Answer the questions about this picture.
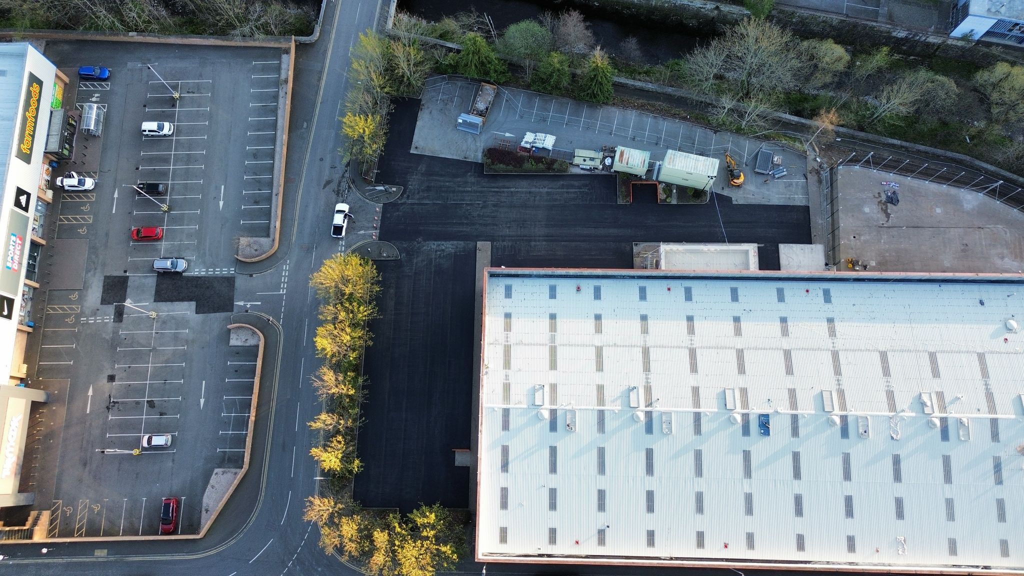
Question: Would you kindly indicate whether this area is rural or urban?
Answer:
urban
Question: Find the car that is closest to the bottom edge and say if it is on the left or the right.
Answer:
left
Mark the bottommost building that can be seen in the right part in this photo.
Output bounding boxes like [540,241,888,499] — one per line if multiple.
[476,268,1024,564]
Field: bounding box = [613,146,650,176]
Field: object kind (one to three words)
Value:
building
